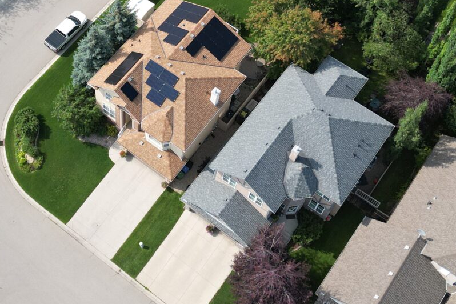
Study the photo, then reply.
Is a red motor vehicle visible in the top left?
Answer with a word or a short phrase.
No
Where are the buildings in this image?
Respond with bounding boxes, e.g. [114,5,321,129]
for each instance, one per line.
[181,56,395,249]
[88,0,252,185]
[315,135,456,304]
